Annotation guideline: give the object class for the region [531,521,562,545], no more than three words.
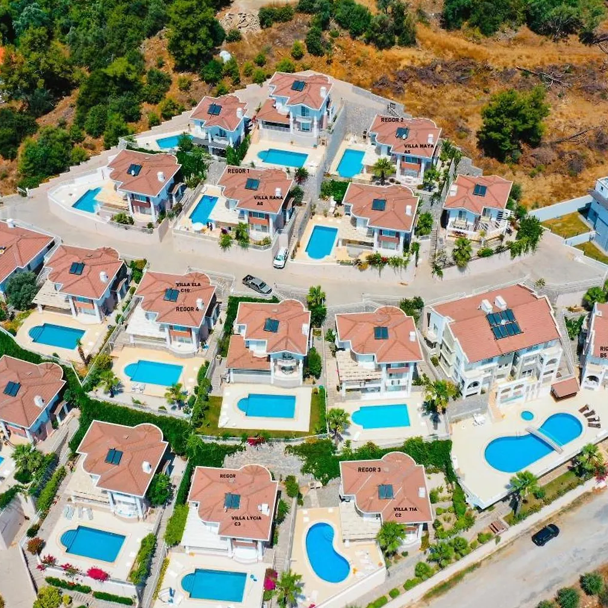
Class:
car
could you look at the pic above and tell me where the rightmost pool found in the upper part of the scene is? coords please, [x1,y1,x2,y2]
[335,148,367,179]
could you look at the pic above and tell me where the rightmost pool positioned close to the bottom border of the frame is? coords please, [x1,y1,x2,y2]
[302,519,354,585]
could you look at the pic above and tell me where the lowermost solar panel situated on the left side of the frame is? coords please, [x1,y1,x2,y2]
[220,487,241,504]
